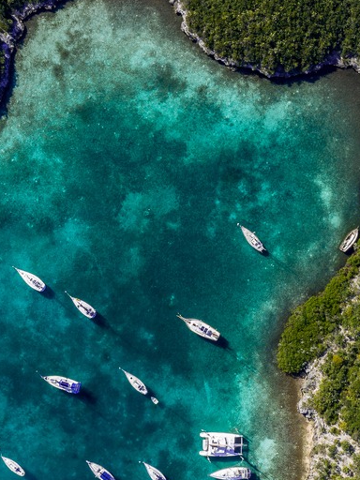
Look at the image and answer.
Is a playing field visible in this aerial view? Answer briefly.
No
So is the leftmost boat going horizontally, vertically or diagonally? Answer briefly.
diagonally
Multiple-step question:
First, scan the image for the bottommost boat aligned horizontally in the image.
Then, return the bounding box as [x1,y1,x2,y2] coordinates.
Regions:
[210,467,253,480]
